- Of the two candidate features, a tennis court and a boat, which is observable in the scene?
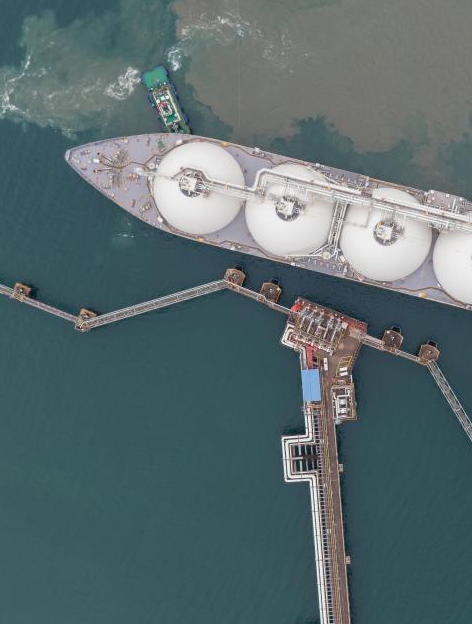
boat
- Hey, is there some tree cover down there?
No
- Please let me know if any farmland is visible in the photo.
No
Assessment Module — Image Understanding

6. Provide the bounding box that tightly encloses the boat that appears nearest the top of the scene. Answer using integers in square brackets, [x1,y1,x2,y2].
[141,63,190,136]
